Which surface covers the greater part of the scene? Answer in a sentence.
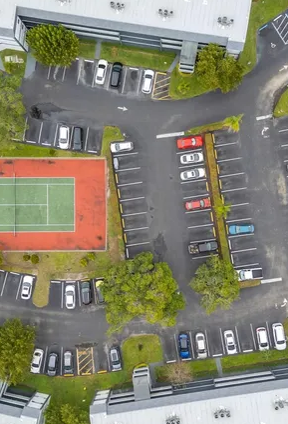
For the most part, this view shows paved ground.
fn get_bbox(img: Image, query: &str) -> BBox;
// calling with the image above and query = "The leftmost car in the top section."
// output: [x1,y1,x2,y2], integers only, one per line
[57,125,70,149]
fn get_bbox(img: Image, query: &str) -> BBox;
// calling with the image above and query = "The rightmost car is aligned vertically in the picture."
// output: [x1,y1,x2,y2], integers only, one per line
[272,324,286,348]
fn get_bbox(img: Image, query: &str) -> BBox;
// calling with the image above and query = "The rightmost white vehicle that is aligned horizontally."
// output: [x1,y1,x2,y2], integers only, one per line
[236,268,264,281]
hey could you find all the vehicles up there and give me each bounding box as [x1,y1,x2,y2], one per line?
[31,348,44,372]
[109,346,122,371]
[64,285,76,308]
[224,331,237,355]
[21,275,35,300]
[80,280,91,304]
[46,351,58,375]
[229,223,255,236]
[257,326,270,350]
[181,168,205,180]
[109,141,134,153]
[57,125,70,149]
[187,198,211,209]
[196,333,207,357]
[95,279,107,303]
[177,136,202,148]
[96,60,107,84]
[236,268,264,281]
[189,240,218,254]
[272,324,286,348]
[62,349,74,373]
[142,69,154,94]
[181,152,204,164]
[110,62,122,88]
[71,126,84,150]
